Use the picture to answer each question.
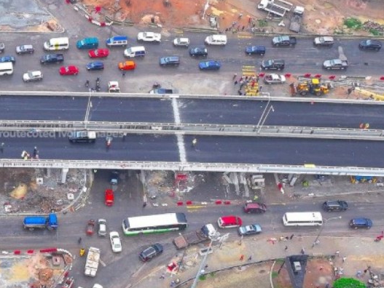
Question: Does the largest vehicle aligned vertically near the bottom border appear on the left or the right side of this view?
left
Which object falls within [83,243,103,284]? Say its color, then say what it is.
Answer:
white vehicle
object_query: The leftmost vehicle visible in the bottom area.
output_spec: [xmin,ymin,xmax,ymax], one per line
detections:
[21,213,59,231]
